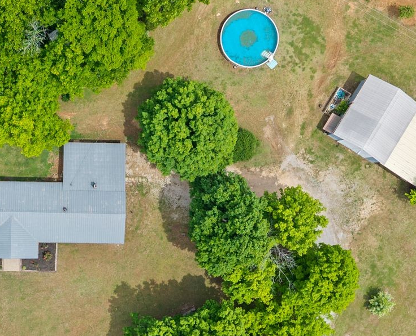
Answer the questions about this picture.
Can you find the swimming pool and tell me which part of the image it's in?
top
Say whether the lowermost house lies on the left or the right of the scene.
left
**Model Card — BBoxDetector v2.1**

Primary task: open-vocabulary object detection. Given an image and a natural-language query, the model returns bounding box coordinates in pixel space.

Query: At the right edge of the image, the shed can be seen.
[315,74,416,185]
